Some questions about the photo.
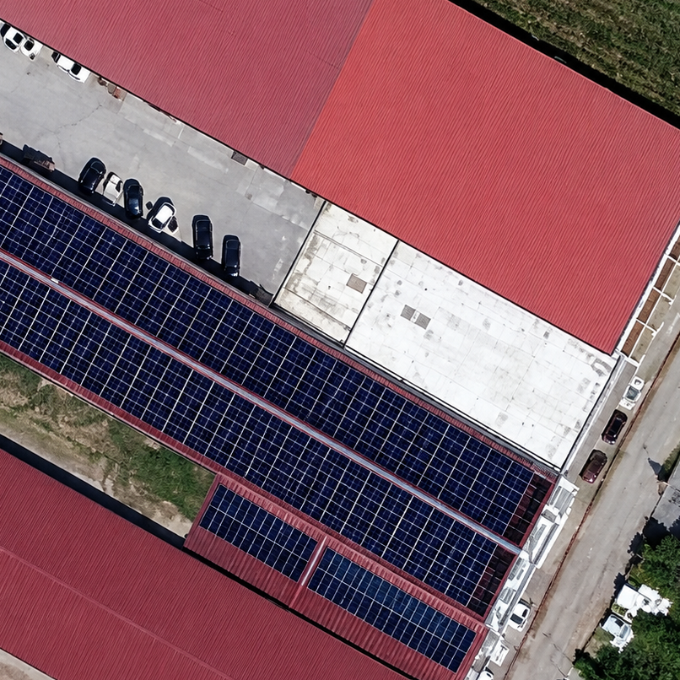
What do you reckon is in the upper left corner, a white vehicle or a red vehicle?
white vehicle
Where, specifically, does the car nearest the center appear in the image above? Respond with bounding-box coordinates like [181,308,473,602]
[222,235,241,279]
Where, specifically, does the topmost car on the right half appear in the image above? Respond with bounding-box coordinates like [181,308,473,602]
[620,374,646,413]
